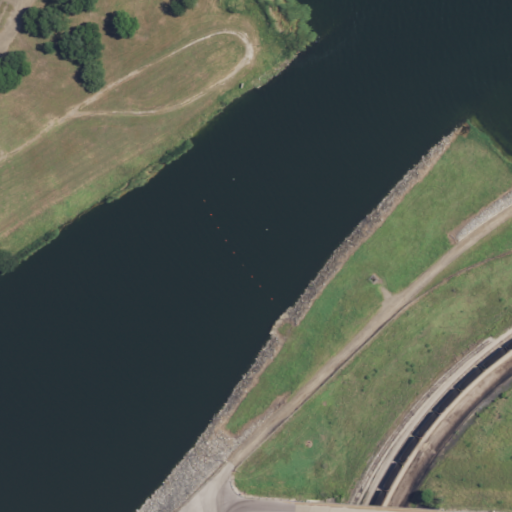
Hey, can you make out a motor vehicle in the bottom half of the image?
Yes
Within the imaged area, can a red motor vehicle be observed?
No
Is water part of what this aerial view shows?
Yes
